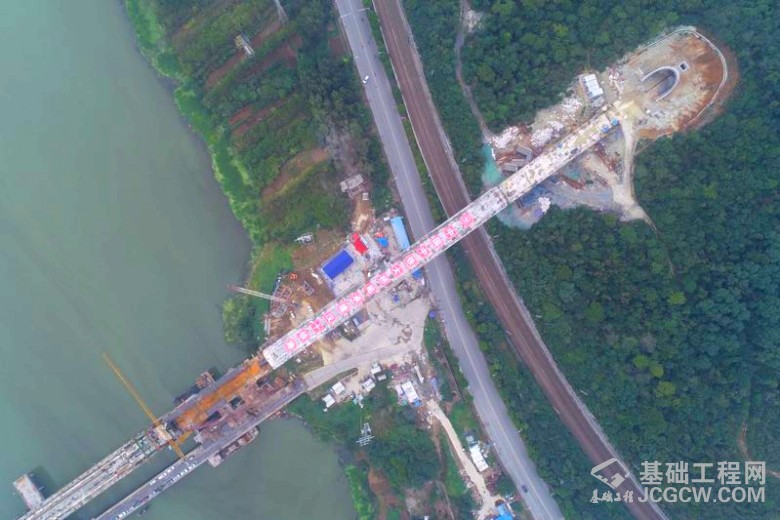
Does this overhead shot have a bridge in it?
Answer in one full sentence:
Yes, this view includes a bridge.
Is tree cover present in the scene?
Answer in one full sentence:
Yes, there's tree cover in this view.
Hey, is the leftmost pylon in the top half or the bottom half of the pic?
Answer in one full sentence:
The leftmost pylon sits in the top half of the picture.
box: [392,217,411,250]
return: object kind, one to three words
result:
shed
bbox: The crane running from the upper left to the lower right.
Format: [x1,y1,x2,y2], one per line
[101,352,193,460]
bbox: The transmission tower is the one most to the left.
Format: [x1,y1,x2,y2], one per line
[235,29,257,59]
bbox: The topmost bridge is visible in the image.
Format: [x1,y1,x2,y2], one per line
[262,100,628,369]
